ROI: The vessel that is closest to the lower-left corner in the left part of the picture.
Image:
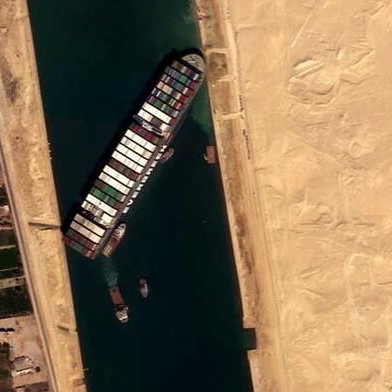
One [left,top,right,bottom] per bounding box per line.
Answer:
[109,283,128,323]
